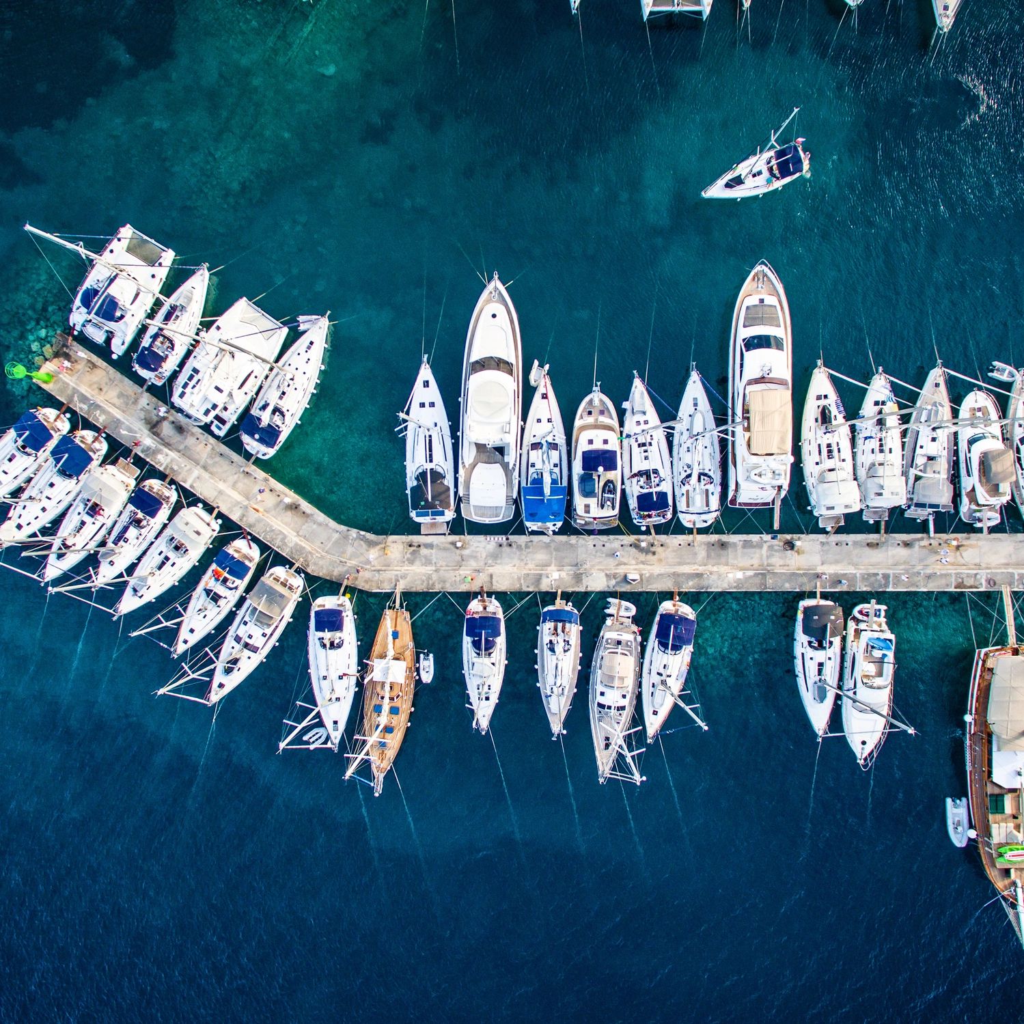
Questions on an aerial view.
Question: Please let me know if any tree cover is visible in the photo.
No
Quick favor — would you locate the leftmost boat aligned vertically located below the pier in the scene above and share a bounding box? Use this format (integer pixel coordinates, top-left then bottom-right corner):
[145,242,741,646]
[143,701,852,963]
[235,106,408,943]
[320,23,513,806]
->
[278,576,363,755]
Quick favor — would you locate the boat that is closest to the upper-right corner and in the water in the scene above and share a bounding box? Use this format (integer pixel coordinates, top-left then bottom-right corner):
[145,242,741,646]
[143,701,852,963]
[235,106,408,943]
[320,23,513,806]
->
[923,0,962,62]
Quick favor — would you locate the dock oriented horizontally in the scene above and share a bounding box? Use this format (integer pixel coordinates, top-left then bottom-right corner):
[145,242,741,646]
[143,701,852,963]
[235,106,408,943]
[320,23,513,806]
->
[33,332,1024,591]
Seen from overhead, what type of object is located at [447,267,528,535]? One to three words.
boat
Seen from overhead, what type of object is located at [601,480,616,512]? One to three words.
boat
